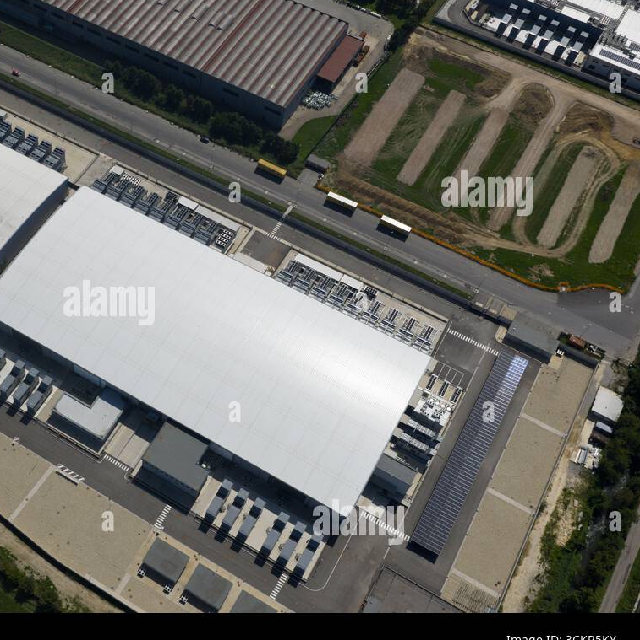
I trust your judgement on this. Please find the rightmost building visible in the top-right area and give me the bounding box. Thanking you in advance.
[582,30,640,89]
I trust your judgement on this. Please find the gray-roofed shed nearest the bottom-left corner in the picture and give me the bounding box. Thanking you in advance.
[142,538,191,585]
